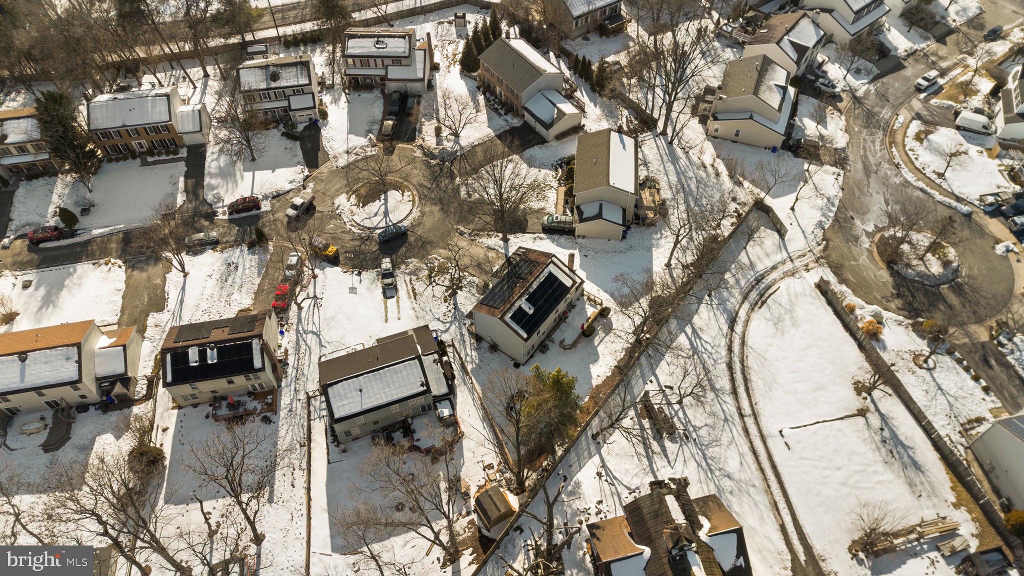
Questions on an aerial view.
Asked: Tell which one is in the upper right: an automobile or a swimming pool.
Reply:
automobile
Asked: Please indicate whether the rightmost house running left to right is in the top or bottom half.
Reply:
top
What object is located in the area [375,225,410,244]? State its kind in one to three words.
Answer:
car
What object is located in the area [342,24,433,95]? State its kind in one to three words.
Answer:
house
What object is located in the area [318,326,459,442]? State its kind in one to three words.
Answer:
house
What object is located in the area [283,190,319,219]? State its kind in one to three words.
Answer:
truck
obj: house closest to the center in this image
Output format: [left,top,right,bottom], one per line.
[469,245,585,362]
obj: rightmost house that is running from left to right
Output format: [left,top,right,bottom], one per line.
[797,0,893,47]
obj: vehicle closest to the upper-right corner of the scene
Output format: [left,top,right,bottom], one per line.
[982,26,1004,41]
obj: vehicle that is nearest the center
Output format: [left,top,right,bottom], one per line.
[541,216,575,234]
